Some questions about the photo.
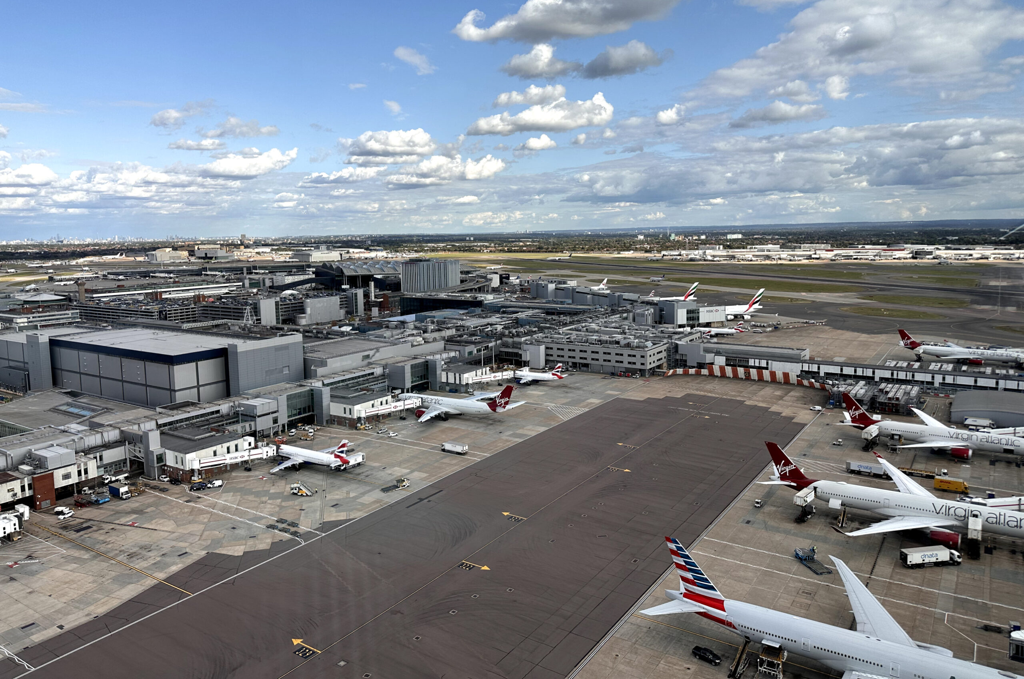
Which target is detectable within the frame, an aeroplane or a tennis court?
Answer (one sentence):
Looking from above, you can make out an aeroplane.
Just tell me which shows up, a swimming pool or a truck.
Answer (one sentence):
Looking from above, you can make out a truck.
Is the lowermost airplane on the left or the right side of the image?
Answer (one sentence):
The lowermost airplane is on the right side of the image.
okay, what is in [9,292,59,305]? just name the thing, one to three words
building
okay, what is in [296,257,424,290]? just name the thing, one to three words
building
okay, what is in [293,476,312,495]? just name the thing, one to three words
vehicle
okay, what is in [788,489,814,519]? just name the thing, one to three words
truck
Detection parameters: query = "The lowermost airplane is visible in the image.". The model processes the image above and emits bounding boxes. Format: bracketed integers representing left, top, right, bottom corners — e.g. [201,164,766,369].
[652,538,1024,679]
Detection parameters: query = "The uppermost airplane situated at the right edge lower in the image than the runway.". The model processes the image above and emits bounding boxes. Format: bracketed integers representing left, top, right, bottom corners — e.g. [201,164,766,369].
[889,328,1024,364]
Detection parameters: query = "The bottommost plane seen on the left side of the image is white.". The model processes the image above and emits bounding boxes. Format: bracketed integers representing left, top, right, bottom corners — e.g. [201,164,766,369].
[277,442,362,471]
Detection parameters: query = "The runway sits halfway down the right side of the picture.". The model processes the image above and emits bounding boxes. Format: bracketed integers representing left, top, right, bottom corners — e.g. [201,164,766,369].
[512,257,1024,298]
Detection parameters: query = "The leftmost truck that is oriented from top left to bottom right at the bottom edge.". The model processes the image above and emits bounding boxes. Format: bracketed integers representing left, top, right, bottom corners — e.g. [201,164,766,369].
[692,646,721,668]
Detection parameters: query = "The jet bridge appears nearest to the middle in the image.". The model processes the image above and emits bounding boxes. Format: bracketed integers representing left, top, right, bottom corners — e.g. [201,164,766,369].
[466,369,519,392]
